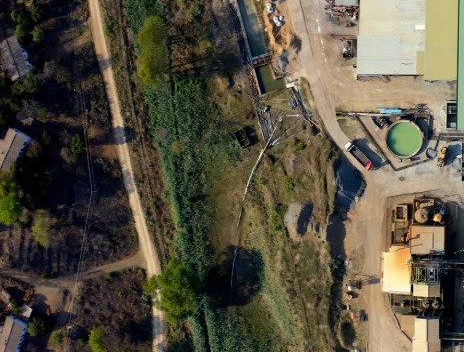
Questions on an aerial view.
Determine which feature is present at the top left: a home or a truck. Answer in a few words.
home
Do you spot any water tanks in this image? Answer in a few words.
Yes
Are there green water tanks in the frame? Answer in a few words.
Yes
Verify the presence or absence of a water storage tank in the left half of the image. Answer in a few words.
No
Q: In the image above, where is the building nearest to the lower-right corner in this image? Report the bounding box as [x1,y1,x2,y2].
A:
[413,316,442,352]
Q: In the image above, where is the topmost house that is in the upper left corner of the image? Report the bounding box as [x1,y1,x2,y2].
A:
[0,36,36,81]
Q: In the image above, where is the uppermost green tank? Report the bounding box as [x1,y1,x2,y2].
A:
[383,120,427,160]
